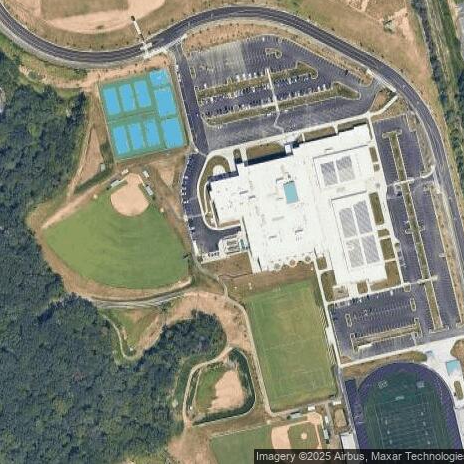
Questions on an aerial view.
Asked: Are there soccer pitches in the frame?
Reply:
Yes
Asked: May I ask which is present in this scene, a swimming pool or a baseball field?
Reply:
baseball field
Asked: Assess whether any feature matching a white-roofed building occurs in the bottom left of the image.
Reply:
No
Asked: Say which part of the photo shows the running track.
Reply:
bottom right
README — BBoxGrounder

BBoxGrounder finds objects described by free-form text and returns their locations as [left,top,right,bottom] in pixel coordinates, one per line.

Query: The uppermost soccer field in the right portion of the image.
[249,285,337,410]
